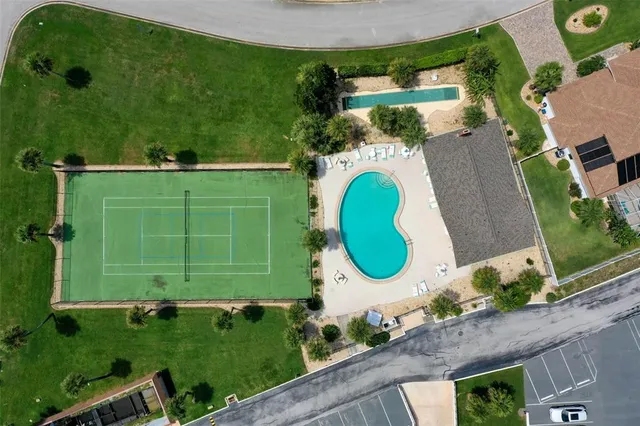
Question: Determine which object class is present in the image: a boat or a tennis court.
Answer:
tennis court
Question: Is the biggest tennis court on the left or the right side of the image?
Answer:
left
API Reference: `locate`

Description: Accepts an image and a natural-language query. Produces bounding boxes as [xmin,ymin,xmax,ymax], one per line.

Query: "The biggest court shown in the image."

[62,171,312,302]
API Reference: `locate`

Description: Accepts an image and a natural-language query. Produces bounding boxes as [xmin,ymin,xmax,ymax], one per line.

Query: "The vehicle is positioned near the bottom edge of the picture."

[549,404,586,422]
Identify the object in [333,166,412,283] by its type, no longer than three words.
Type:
swimming pool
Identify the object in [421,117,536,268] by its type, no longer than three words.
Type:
building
